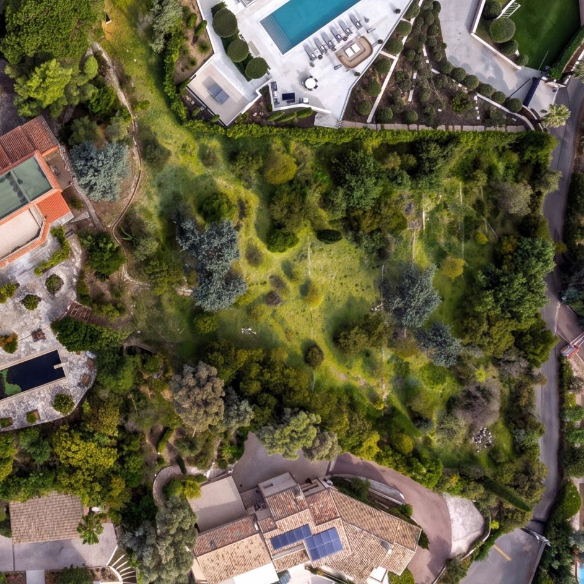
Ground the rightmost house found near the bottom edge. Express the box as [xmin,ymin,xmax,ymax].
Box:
[186,460,421,584]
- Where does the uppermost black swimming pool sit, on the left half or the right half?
left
